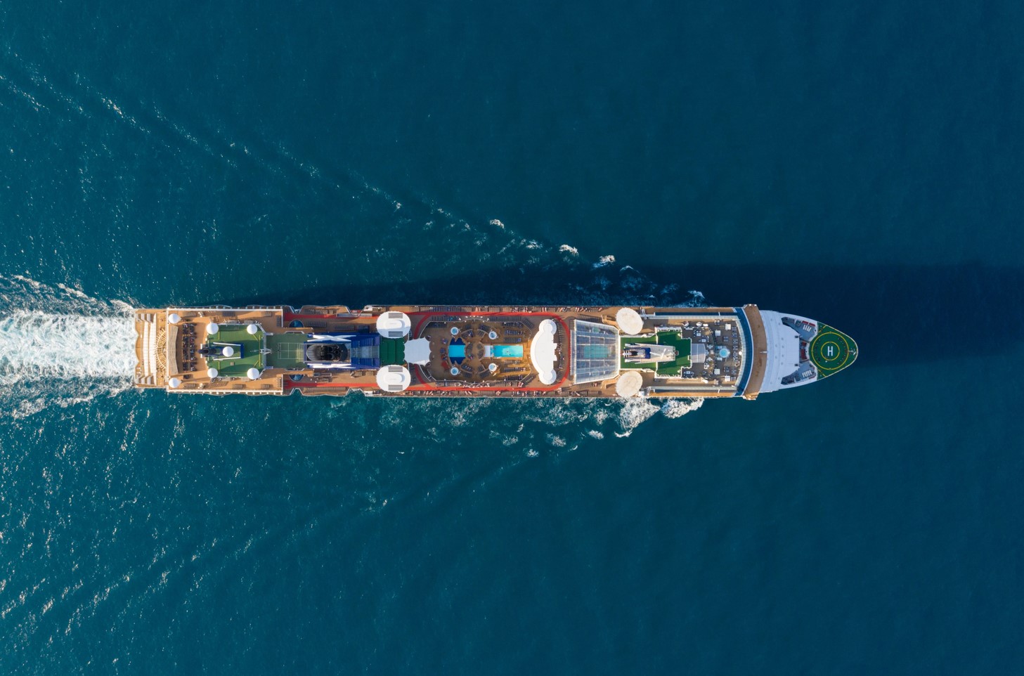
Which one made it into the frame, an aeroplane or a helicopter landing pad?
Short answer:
helicopter landing pad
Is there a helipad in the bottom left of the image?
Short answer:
No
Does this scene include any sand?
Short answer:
No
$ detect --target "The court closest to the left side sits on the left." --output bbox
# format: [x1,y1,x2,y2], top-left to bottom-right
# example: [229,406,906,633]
[210,325,264,377]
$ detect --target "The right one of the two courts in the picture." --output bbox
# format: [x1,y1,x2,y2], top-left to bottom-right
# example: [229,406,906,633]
[266,334,304,369]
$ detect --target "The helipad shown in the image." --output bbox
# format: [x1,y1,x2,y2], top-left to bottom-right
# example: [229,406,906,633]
[808,321,858,381]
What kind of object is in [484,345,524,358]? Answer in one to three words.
swimming pool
